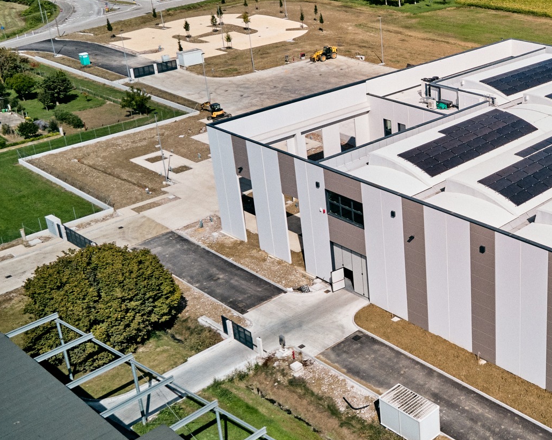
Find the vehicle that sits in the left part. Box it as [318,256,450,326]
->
[195,101,228,120]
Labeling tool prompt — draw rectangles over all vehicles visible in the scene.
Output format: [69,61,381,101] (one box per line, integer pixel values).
[310,46,340,64]
[195,101,228,120]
